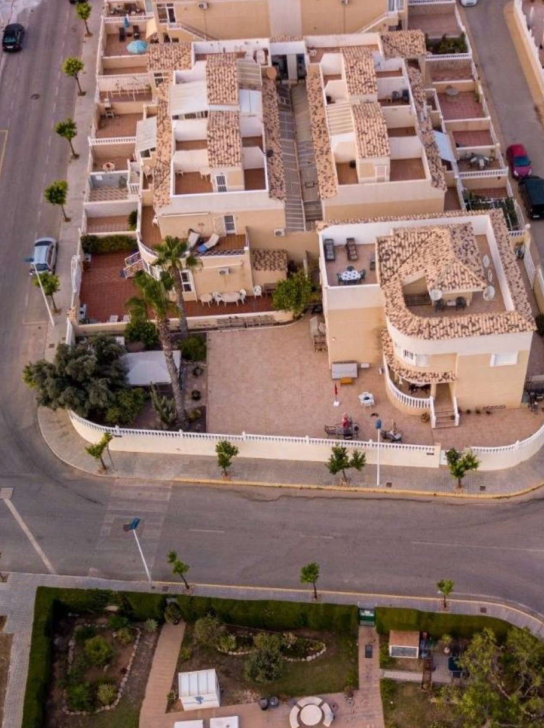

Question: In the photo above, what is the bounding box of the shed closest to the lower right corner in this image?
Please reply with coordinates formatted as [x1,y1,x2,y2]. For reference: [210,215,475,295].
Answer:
[390,632,419,653]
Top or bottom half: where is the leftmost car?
top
